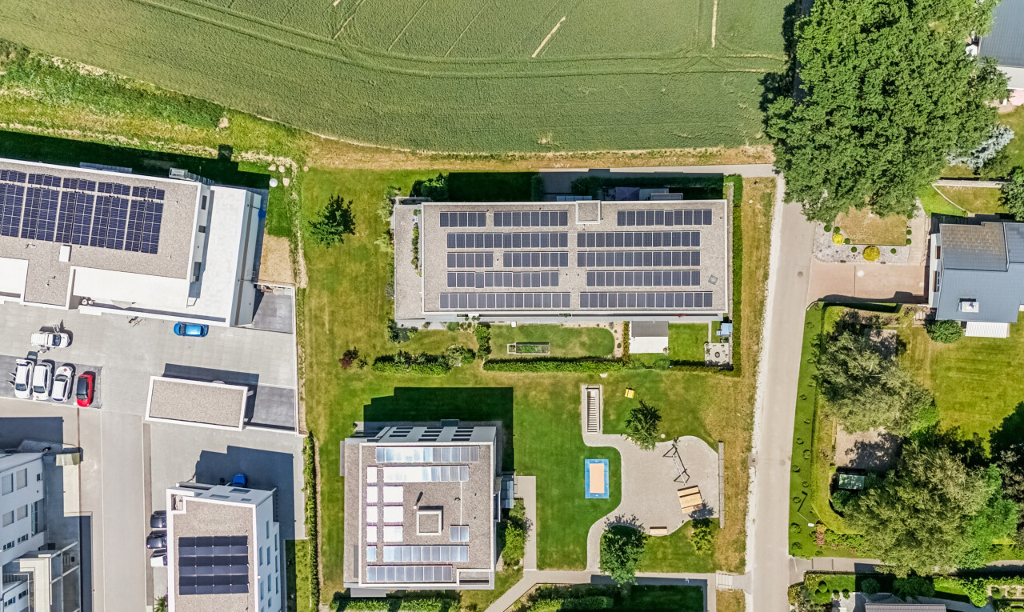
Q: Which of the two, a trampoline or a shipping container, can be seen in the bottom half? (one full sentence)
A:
The one visible in the bottom half is a trampoline.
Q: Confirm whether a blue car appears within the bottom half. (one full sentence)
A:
Yes, a blue car shows up within the bottom half.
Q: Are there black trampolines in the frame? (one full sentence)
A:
No, this view has no black trampoline in it.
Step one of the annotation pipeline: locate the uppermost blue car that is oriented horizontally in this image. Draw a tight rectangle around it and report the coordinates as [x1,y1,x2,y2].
[174,320,211,338]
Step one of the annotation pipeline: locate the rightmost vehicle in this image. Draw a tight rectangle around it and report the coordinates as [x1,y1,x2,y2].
[230,471,250,488]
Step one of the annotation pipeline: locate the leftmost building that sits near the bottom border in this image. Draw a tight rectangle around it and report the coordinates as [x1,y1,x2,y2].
[0,453,81,612]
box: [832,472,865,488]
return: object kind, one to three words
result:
shed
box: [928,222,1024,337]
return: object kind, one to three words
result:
house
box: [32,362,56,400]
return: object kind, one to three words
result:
car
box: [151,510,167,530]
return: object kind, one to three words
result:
car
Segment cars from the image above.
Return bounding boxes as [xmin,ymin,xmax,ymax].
[230,471,250,488]
[174,320,211,338]
[29,325,74,356]
[151,510,167,530]
[32,362,56,400]
[149,529,167,549]
[52,364,77,403]
[75,373,97,407]
[7,356,36,398]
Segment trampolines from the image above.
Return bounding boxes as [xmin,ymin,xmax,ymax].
[584,459,609,499]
